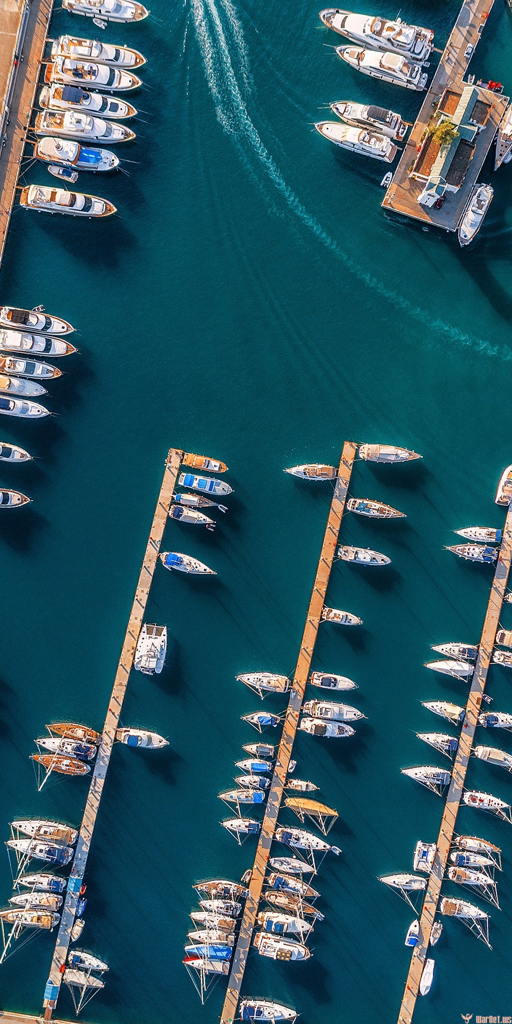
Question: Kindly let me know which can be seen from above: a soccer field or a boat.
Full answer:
The one in the frame is a boat.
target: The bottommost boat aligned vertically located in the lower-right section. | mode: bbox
[420,958,436,996]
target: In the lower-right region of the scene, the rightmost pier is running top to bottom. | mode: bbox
[396,503,512,1024]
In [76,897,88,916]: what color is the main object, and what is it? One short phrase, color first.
blue boat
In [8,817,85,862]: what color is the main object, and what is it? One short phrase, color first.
white boat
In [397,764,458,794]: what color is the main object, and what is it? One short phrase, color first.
white boat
